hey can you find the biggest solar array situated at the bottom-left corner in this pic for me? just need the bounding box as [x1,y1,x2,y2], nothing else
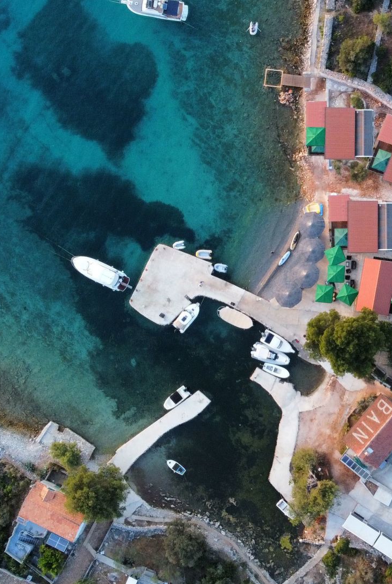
[46,532,69,552]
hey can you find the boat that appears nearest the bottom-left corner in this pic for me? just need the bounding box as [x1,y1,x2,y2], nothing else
[167,460,186,475]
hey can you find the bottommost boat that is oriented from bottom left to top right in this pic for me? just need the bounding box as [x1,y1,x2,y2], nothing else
[163,385,191,408]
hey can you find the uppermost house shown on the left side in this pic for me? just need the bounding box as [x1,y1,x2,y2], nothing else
[4,475,89,564]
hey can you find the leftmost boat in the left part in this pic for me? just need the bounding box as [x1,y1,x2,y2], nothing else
[69,258,132,295]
